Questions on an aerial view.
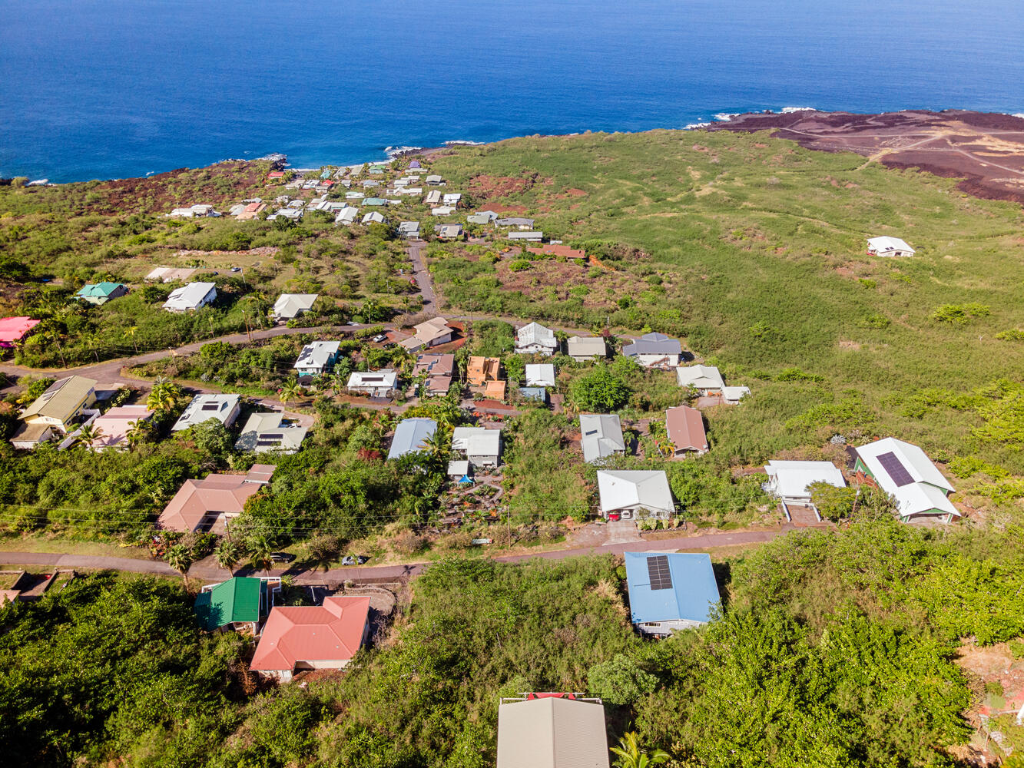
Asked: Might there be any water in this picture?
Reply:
Yes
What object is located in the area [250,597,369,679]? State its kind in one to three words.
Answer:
house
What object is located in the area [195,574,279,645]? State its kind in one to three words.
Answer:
house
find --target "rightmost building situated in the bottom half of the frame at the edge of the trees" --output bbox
[858,442,963,524]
